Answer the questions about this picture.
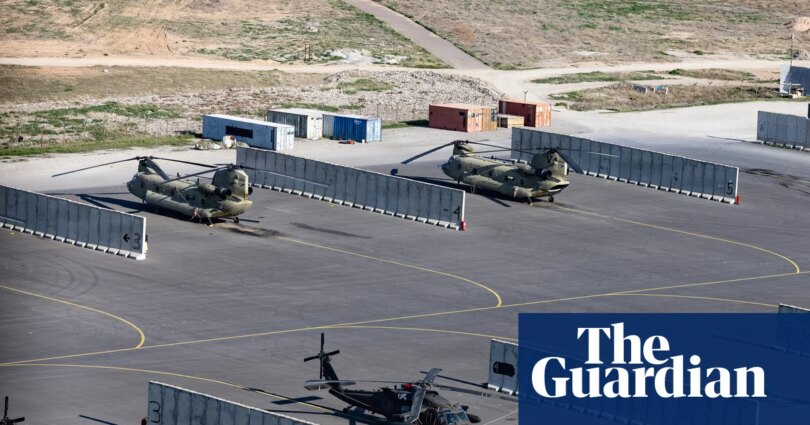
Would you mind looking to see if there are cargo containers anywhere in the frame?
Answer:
Yes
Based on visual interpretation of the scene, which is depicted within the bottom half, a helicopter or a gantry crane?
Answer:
helicopter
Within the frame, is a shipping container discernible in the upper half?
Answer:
Yes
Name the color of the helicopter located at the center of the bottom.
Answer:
black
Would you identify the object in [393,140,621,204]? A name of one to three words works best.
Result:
helicopter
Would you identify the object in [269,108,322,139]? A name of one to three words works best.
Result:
shipping container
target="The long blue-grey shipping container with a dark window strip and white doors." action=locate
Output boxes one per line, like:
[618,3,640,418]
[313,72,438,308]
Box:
[203,112,293,150]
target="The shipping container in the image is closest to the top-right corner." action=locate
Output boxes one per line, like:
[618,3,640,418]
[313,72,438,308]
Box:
[498,97,551,127]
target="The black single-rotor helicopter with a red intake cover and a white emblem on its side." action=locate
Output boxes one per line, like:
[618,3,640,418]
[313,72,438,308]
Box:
[301,334,547,425]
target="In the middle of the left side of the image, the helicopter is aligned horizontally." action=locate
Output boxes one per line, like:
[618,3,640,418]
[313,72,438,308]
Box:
[52,157,330,224]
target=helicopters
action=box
[301,334,547,425]
[52,157,330,224]
[0,394,24,425]
[393,140,621,204]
